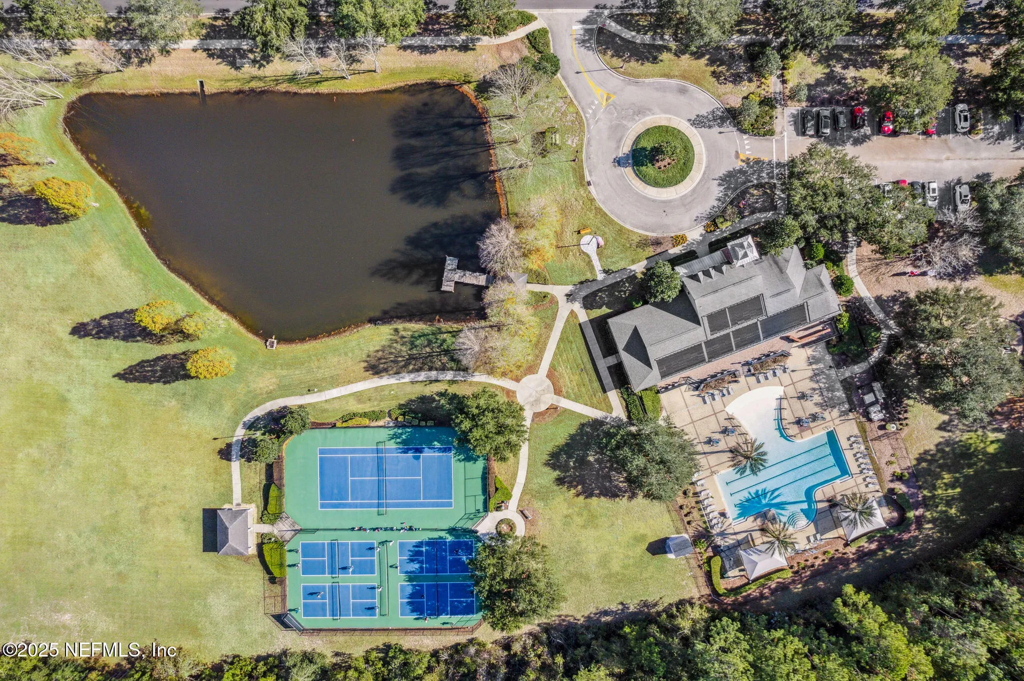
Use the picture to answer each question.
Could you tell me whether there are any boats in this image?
No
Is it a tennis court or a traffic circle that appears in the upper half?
traffic circle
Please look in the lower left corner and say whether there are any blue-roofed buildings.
No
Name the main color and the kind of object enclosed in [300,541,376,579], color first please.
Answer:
blue sports court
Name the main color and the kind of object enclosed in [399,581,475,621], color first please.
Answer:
blue sports court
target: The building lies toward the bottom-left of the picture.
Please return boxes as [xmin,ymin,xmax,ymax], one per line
[218,507,253,556]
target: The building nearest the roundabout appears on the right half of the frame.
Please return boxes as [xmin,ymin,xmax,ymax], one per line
[607,235,843,391]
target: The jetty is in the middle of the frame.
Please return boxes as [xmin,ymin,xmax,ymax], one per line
[441,256,506,292]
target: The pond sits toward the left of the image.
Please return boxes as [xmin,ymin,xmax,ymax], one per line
[65,83,505,343]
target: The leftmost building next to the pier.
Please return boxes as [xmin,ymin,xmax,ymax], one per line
[506,270,527,291]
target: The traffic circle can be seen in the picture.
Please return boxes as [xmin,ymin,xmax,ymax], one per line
[589,83,736,230]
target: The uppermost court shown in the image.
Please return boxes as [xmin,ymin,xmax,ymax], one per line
[284,428,488,530]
